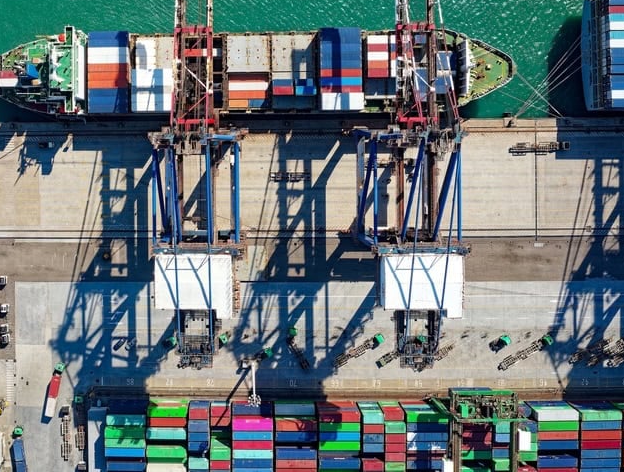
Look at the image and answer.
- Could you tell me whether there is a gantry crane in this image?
Yes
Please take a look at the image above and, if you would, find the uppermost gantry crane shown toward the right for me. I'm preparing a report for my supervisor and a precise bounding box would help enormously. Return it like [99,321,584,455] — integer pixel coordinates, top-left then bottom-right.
[334,0,468,368]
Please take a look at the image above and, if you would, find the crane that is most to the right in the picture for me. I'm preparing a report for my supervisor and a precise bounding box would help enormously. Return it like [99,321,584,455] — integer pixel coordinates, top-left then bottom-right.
[431,389,531,472]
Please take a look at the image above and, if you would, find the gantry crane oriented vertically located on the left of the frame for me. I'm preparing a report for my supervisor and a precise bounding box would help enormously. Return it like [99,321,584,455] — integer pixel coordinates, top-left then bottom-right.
[142,0,256,368]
